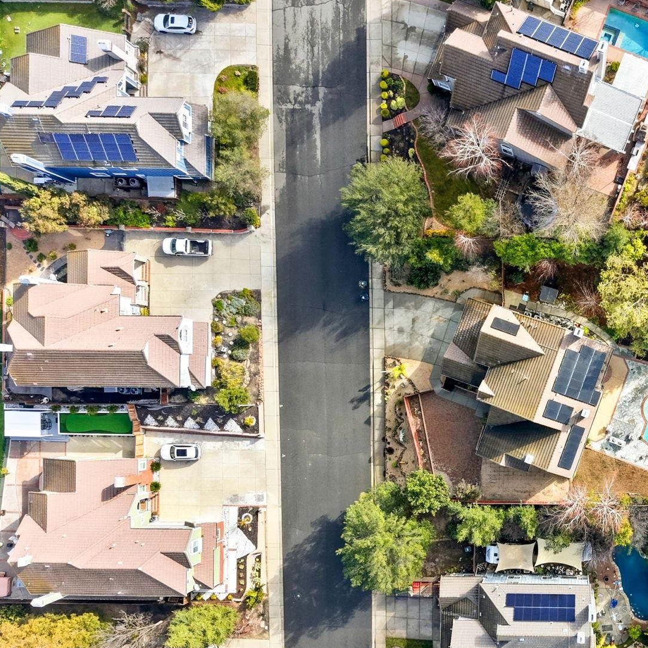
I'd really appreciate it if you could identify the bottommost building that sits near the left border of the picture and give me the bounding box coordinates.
[8,459,222,610]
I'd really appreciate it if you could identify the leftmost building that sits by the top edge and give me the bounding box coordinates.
[0,24,212,183]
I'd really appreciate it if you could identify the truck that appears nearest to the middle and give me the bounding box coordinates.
[161,236,213,257]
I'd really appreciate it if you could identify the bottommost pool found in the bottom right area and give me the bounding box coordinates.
[610,542,648,622]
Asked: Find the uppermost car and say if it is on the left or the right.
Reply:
left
